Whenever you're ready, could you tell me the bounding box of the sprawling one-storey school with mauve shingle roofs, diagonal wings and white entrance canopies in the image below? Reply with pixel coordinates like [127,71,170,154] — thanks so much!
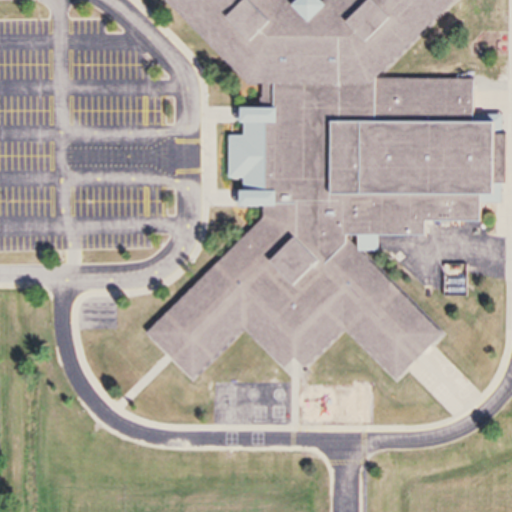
[148,0,506,382]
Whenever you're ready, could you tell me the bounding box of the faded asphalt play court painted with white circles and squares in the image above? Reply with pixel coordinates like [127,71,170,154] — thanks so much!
[214,382,290,425]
